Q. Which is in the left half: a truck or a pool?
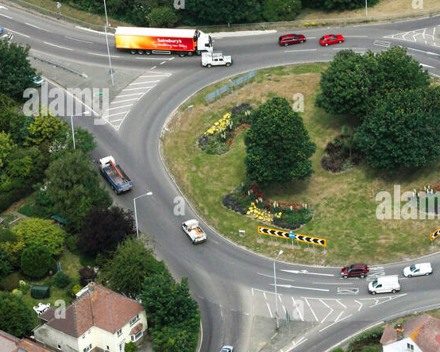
truck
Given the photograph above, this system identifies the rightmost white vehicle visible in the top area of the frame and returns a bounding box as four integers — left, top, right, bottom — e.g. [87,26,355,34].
[202,50,233,67]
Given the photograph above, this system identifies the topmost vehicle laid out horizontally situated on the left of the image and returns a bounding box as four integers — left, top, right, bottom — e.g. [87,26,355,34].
[113,23,213,56]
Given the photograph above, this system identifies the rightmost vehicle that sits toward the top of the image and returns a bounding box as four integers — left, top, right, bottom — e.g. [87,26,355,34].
[320,32,343,44]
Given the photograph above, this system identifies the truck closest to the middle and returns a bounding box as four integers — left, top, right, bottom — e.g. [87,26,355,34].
[182,219,207,243]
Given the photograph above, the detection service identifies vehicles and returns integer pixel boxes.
[202,50,233,67]
[218,344,233,352]
[182,219,207,243]
[98,150,132,193]
[320,32,343,44]
[340,259,370,276]
[278,31,306,44]
[113,23,213,56]
[366,273,402,295]
[405,260,433,276]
